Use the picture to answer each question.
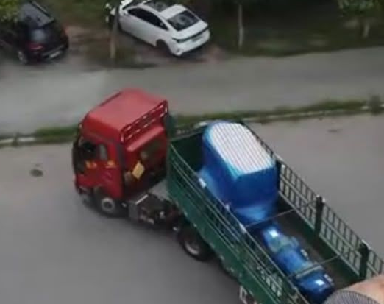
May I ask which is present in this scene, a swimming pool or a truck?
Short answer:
truck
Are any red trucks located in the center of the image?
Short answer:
Yes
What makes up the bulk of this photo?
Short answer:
paved ground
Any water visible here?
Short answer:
No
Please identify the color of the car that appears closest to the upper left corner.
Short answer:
black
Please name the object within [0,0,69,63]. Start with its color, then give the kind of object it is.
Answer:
black car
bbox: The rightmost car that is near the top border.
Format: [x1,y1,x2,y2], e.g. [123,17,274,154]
[108,0,208,56]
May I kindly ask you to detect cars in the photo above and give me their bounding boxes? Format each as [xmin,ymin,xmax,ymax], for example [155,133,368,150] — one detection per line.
[108,0,208,56]
[0,0,69,63]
